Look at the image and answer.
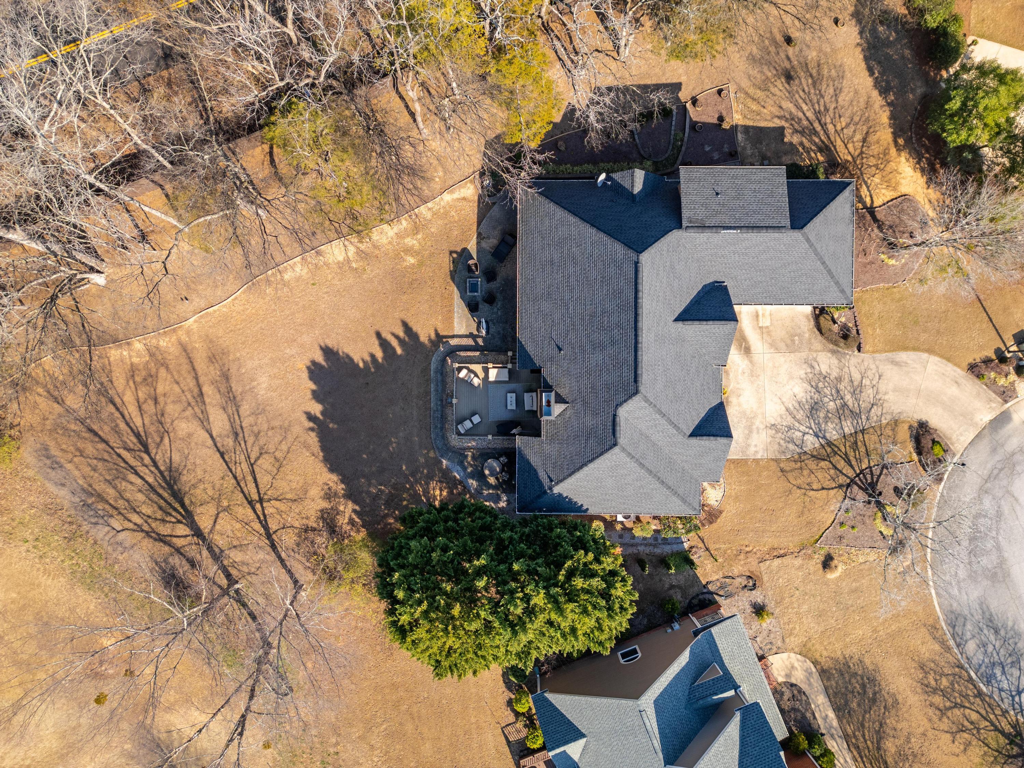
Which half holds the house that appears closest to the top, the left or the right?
right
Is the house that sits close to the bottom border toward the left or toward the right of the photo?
right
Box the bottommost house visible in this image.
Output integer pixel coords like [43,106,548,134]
[528,600,832,768]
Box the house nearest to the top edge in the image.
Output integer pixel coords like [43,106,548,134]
[515,164,857,516]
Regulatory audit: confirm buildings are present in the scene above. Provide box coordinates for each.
[528,600,832,768]
[515,164,857,516]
